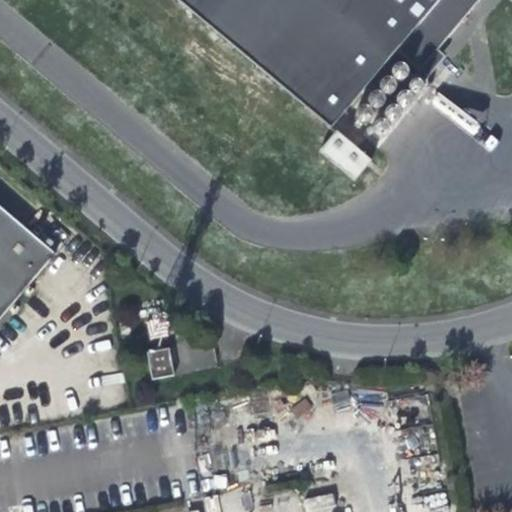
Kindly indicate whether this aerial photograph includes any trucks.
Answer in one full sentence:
Yes, the frame does contain a truck.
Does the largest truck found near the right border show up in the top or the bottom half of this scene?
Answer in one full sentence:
It is in the top half that the largest truck found near the right border appears.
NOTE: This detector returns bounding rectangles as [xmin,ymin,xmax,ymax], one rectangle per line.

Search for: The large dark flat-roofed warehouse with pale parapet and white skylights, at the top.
[176,0,444,129]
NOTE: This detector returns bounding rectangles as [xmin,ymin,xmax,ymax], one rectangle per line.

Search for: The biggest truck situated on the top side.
[431,96,496,152]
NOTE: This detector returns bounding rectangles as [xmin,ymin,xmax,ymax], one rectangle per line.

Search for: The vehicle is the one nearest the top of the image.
[441,56,462,77]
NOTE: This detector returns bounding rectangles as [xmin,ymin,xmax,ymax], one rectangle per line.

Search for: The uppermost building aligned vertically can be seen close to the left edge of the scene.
[0,206,54,318]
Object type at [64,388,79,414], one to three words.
vehicle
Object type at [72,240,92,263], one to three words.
car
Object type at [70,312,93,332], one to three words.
car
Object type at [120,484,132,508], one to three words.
vehicle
